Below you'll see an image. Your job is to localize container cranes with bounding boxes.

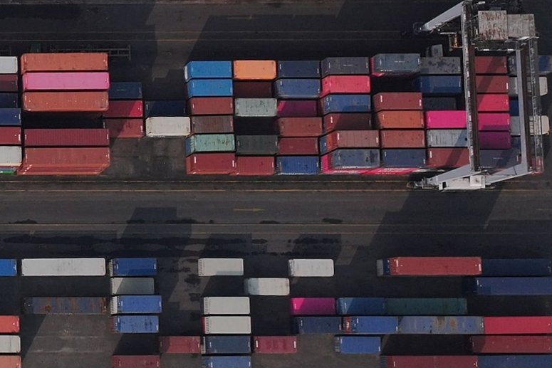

[398,0,543,193]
